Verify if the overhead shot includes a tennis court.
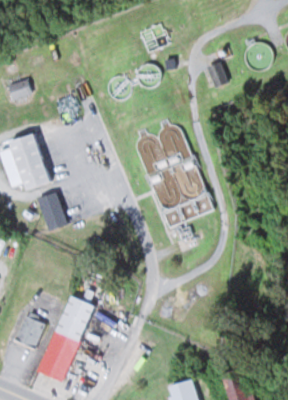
No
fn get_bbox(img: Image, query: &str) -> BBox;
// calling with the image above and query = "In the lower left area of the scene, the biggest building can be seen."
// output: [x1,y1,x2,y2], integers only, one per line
[38,296,96,382]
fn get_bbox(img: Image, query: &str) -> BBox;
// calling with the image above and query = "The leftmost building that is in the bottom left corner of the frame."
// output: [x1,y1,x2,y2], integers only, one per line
[16,316,46,348]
